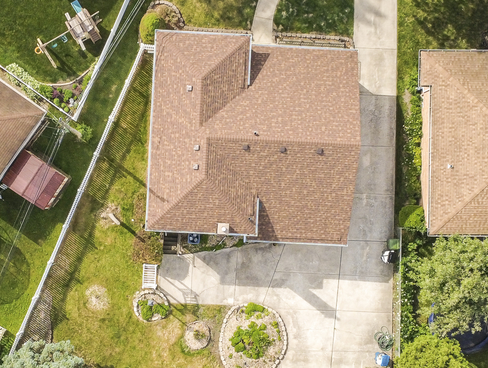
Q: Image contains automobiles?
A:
No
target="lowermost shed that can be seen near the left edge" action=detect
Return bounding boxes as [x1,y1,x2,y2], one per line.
[2,150,71,210]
